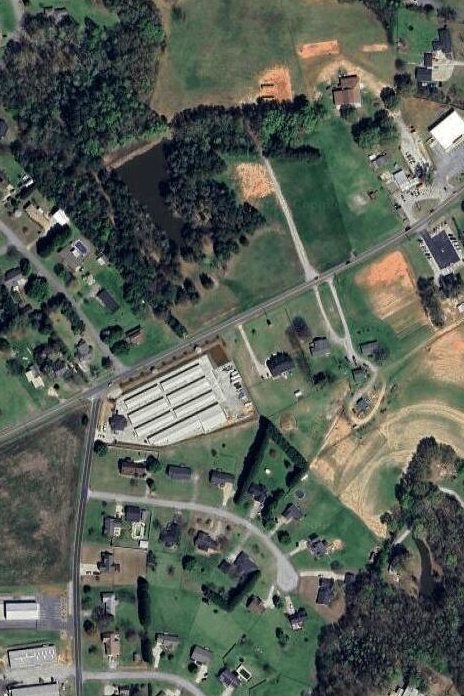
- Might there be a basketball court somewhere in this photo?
No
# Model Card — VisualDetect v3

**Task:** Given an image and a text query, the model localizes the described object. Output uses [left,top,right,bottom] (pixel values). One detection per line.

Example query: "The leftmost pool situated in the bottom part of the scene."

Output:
[132,521,145,539]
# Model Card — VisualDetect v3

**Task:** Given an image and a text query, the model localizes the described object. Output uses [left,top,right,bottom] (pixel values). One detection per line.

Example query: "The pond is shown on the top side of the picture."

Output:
[118,145,187,249]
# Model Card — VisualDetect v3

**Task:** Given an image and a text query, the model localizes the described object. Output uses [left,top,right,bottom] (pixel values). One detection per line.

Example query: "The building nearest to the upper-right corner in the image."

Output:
[433,27,454,53]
